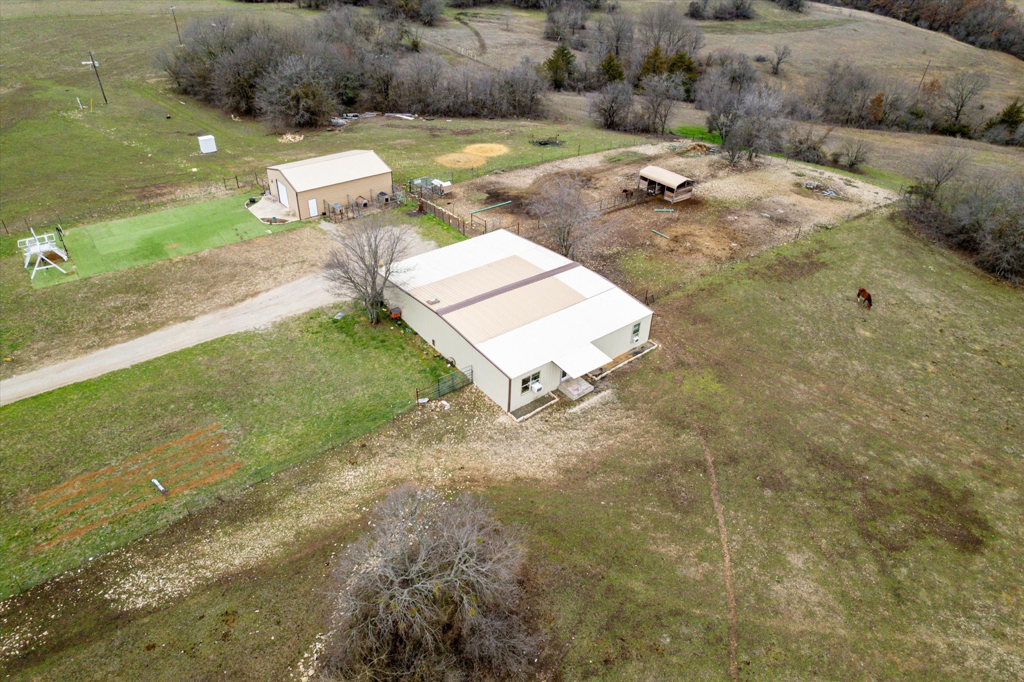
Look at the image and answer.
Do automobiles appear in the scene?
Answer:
No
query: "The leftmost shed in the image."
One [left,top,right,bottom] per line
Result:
[199,131,224,152]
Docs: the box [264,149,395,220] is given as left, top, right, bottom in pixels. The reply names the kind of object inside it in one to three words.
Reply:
building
